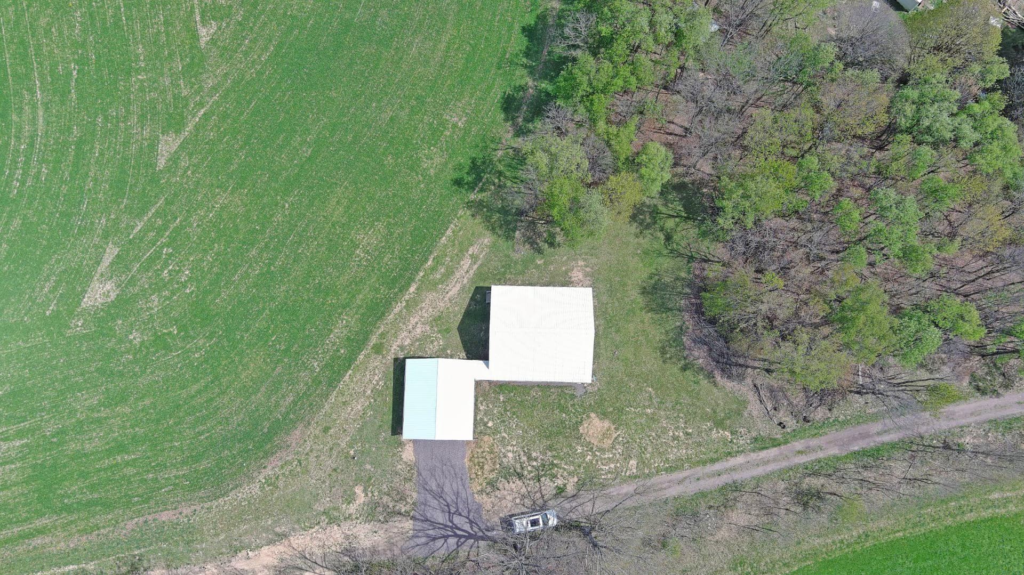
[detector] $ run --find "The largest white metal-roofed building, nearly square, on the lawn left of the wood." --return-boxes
[489,285,595,385]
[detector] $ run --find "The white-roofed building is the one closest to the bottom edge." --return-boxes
[401,358,476,441]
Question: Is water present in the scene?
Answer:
No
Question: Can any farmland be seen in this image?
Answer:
Yes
